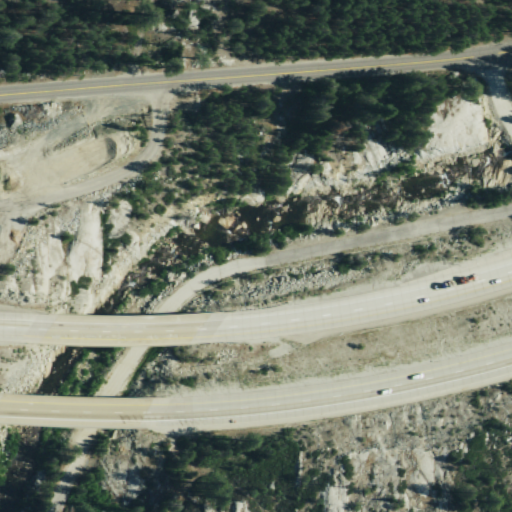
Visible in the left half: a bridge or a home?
bridge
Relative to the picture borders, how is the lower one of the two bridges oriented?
from side to side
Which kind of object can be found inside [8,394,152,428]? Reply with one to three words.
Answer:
bridge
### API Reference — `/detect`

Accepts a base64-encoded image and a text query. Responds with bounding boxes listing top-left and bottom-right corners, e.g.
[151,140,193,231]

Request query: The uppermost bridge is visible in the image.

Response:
[53,313,211,347]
